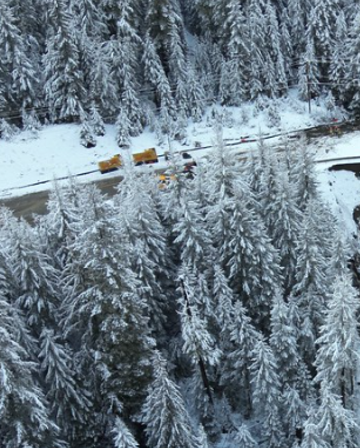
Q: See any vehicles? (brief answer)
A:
Yes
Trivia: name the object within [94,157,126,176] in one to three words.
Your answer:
vehicle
